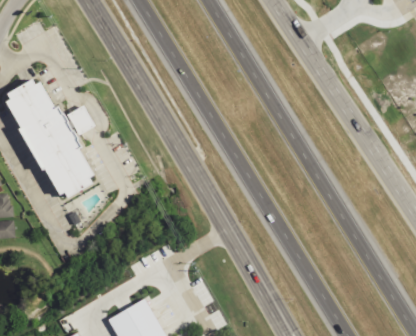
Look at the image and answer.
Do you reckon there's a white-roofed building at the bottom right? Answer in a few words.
No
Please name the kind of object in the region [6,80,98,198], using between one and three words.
building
